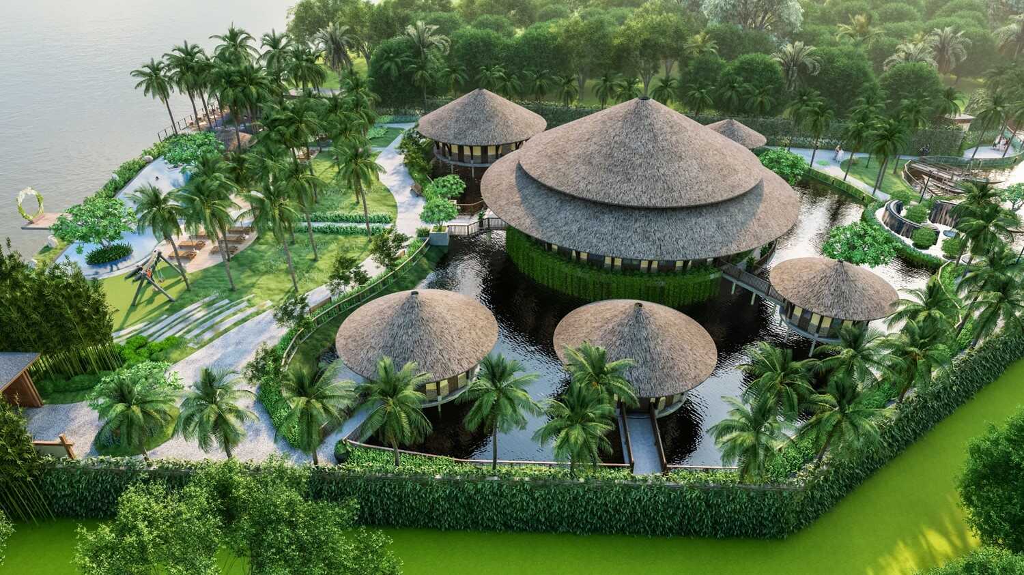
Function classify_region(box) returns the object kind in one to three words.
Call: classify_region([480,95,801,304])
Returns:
building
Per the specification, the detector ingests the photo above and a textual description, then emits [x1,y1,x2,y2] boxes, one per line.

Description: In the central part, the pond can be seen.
[304,145,925,477]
